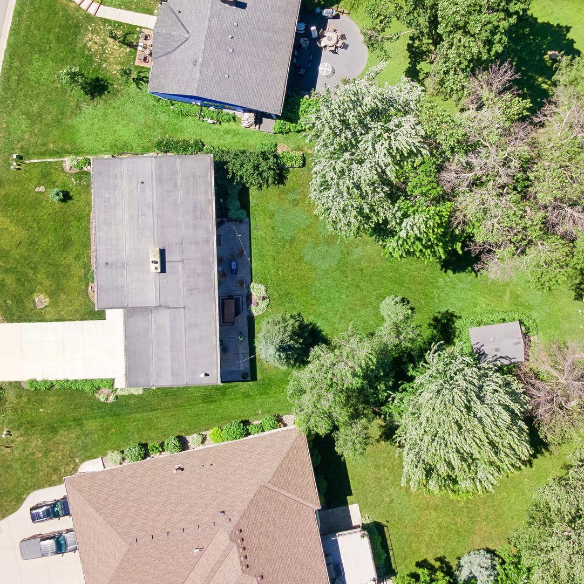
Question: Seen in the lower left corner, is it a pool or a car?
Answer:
car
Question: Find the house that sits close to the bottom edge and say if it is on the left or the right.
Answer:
left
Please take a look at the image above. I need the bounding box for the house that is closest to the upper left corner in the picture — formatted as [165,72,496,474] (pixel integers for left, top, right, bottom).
[149,0,302,117]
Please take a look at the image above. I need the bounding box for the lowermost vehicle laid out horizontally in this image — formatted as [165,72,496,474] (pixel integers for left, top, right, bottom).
[21,529,78,561]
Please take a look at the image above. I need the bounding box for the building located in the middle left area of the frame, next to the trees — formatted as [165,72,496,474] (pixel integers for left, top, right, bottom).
[91,154,221,389]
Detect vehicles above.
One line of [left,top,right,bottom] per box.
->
[21,529,78,561]
[30,499,71,525]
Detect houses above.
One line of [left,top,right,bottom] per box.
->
[63,425,330,584]
[149,0,302,117]
[91,154,221,389]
